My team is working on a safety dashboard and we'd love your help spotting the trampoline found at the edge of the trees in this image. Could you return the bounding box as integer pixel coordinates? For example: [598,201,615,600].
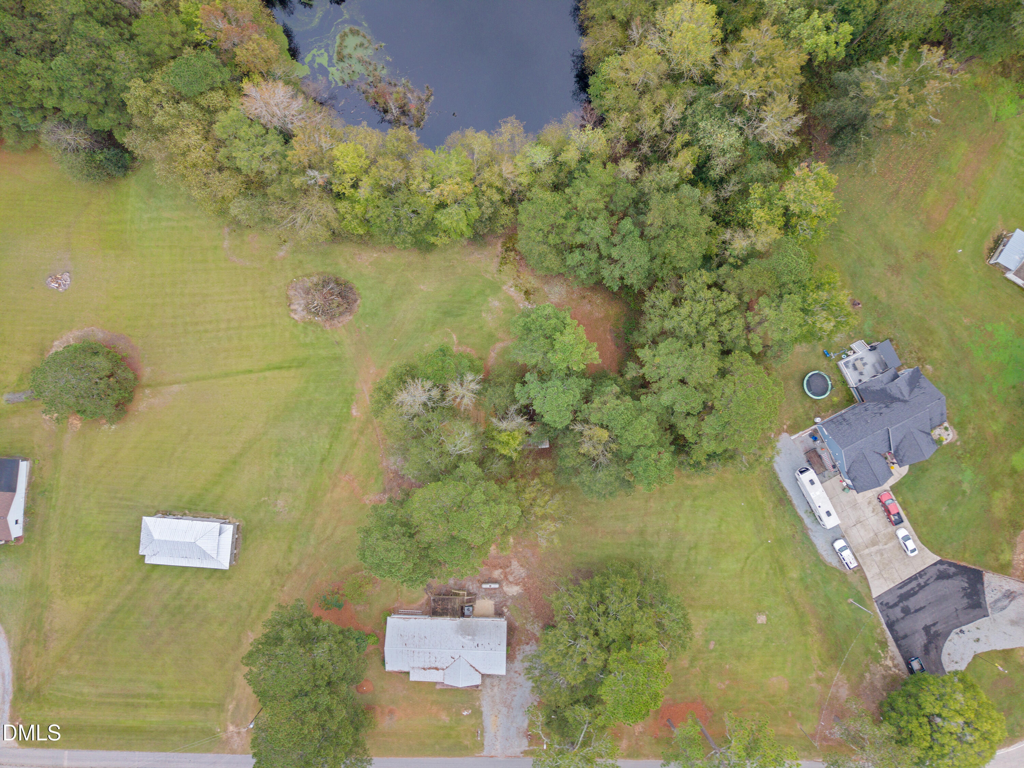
[802,371,833,399]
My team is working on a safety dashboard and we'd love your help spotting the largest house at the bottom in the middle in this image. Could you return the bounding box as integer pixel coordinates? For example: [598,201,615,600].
[385,614,507,690]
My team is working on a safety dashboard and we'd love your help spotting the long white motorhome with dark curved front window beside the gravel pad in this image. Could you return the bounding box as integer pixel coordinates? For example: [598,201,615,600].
[793,463,842,530]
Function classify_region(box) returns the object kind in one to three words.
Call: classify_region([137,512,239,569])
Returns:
barn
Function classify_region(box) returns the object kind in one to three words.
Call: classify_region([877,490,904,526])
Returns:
truck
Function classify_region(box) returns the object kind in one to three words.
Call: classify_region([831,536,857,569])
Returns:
car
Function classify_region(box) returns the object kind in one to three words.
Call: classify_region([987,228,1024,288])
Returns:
house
